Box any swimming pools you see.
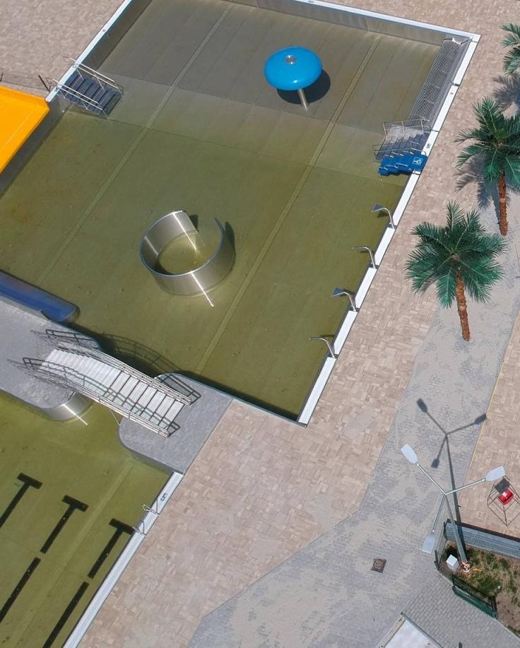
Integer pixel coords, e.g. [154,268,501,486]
[0,0,482,484]
[0,438,185,648]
